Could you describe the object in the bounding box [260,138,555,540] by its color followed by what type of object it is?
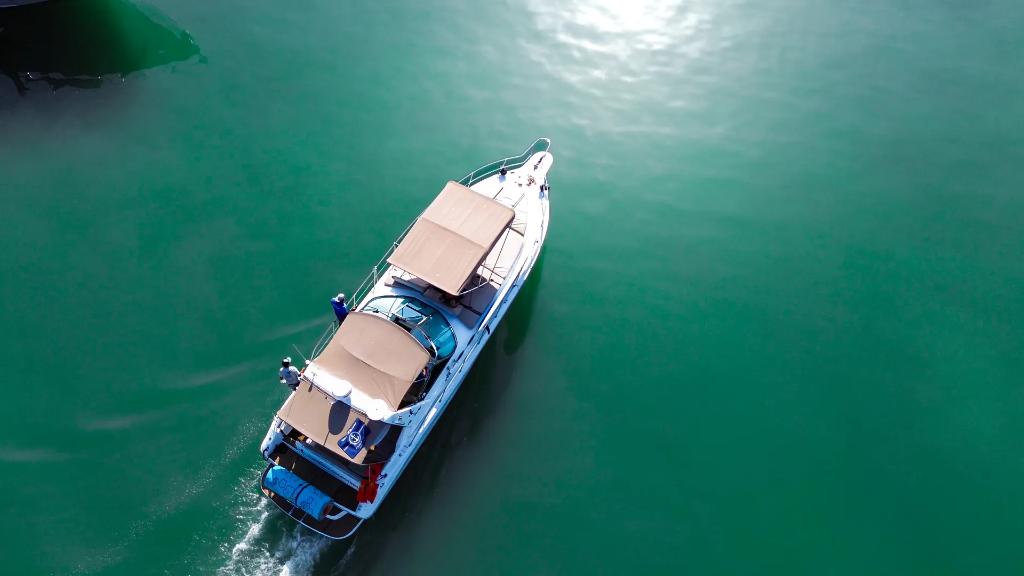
white boat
